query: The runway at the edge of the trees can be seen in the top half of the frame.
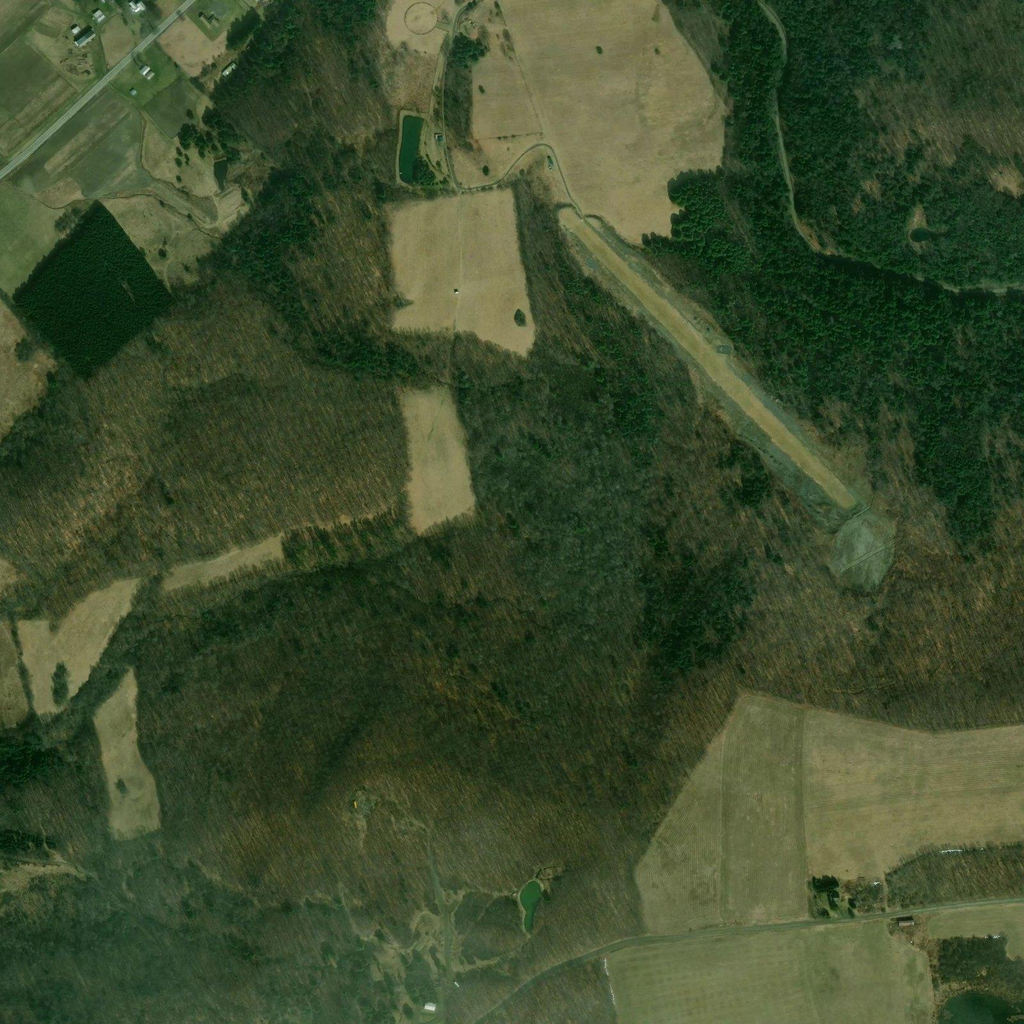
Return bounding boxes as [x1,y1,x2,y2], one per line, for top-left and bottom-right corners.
[559,207,854,508]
